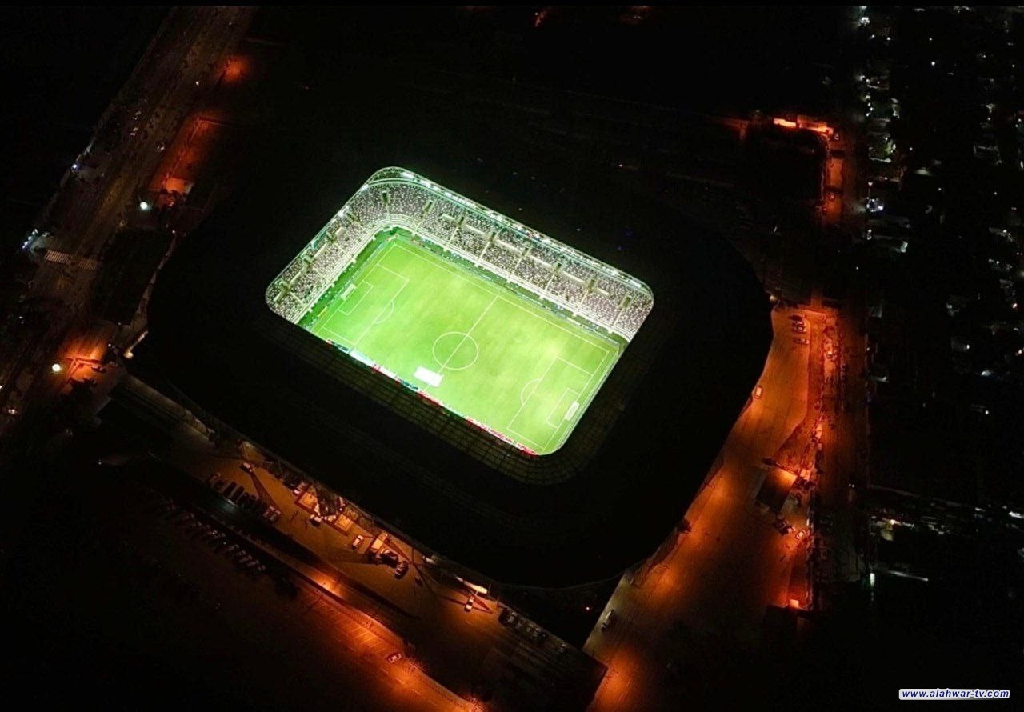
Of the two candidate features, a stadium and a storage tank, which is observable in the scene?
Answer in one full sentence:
It is a stadium that can be seen here.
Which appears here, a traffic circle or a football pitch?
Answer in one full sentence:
Of the two, only a football pitch appears.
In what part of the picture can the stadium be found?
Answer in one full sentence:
The stadium appears toward the center of the photo.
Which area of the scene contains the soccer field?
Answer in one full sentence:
The soccer field is in the center part of the image.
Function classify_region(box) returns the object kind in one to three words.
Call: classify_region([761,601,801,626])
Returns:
building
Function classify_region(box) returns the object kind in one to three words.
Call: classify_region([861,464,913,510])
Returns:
house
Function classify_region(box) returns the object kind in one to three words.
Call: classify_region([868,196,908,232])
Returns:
house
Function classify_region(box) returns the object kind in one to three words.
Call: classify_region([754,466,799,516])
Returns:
shed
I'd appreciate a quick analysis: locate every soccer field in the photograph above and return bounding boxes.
[296,228,626,451]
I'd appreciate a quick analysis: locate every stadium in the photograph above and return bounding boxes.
[138,98,770,649]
